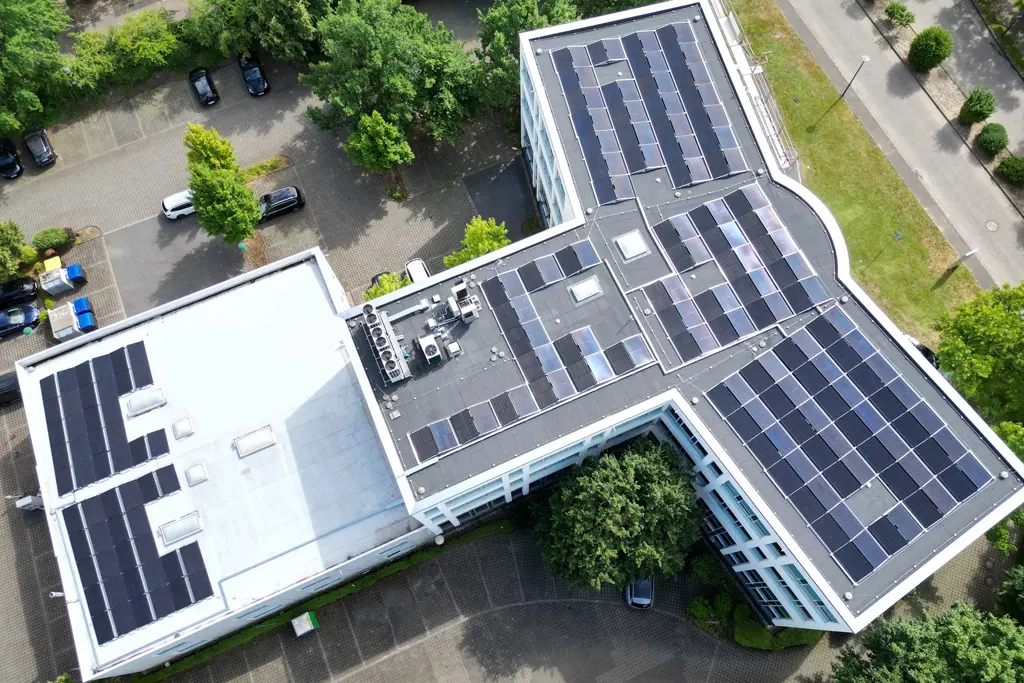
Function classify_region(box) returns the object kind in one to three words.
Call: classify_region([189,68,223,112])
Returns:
car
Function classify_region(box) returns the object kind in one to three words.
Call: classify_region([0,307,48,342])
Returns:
car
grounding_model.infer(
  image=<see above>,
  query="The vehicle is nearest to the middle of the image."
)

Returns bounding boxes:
[402,253,432,282]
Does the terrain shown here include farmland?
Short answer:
No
